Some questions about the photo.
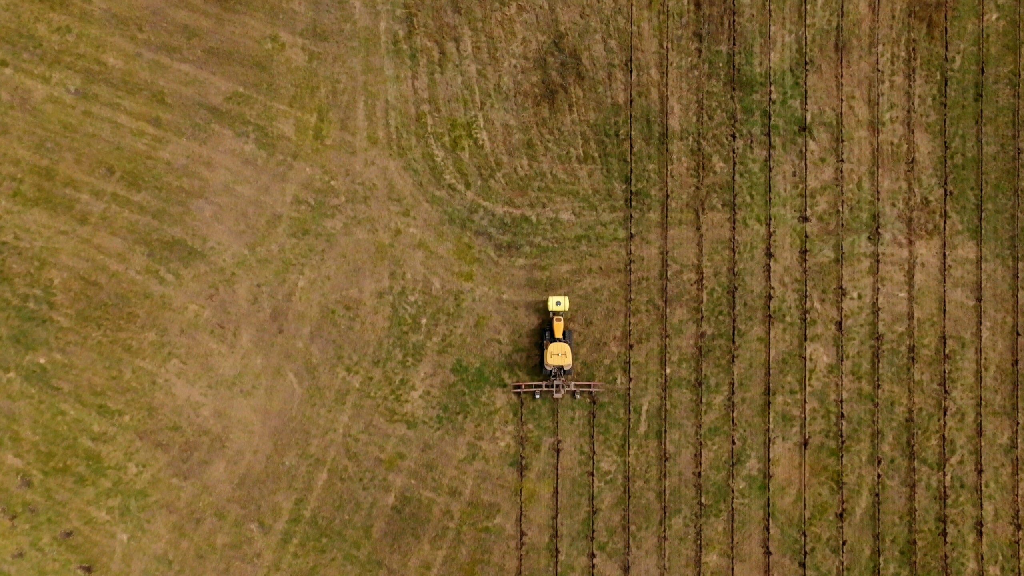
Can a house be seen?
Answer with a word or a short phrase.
No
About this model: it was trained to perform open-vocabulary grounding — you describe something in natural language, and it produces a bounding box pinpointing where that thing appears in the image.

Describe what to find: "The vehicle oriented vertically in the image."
[543,311,573,381]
